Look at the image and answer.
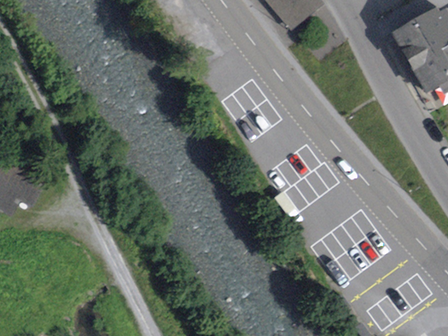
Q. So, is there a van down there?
Yes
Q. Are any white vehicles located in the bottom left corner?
No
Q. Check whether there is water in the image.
Yes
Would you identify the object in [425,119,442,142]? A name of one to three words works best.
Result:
car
